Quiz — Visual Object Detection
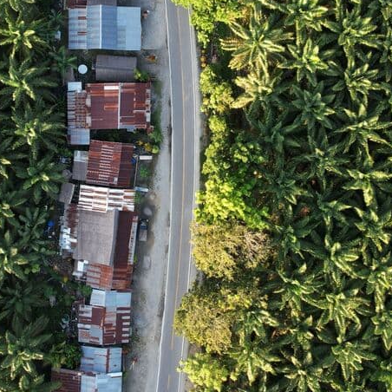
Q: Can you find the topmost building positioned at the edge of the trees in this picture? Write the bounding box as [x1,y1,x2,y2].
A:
[68,0,141,51]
